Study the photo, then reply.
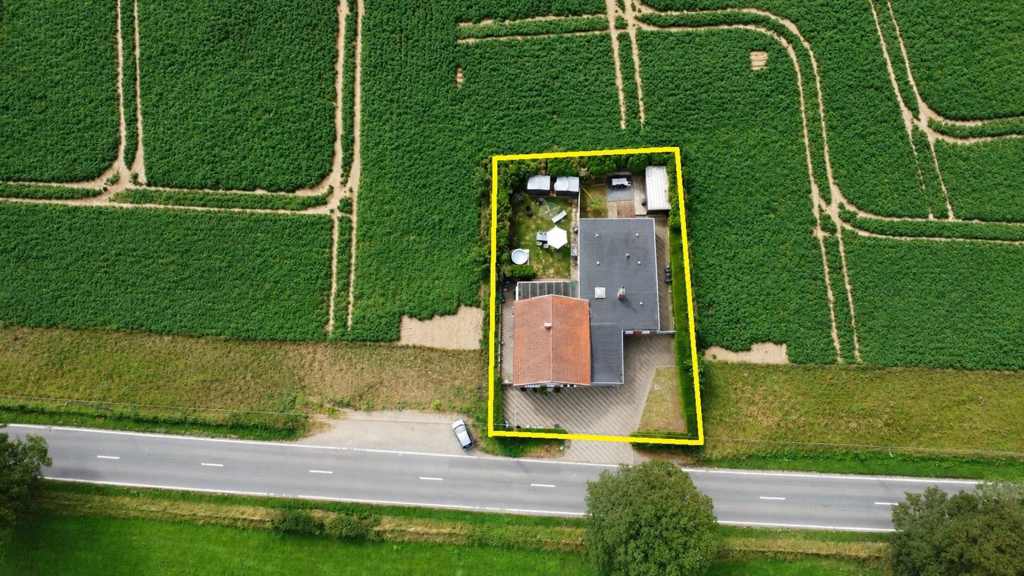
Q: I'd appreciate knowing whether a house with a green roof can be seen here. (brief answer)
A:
No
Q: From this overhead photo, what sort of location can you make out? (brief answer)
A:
farmland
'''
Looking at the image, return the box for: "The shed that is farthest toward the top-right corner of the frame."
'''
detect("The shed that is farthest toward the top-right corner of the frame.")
[644,166,670,216]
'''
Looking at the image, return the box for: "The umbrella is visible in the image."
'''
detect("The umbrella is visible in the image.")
[547,228,569,248]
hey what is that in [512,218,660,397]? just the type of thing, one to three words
house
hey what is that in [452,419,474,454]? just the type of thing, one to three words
car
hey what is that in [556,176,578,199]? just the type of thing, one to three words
shed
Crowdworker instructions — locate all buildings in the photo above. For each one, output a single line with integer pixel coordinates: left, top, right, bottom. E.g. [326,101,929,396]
[644,166,670,216]
[556,176,578,199]
[527,174,550,198]
[512,218,660,397]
